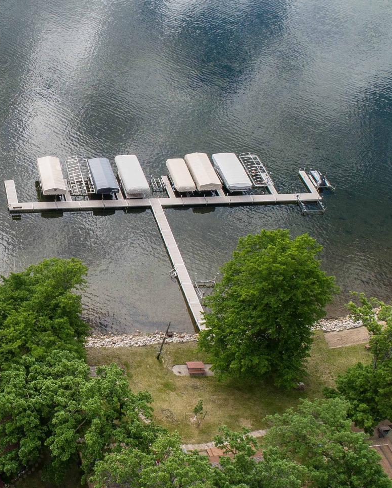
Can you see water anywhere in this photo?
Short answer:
Yes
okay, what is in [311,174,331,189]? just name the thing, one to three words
boat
